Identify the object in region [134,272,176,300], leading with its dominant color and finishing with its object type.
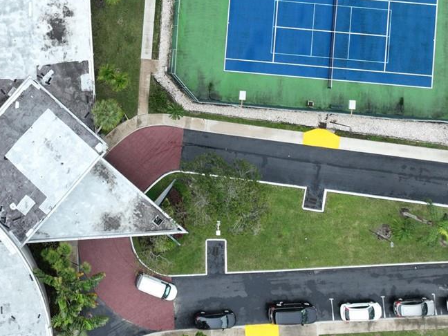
white car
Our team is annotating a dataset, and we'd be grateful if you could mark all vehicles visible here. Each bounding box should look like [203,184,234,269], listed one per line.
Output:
[193,308,235,330]
[392,296,434,319]
[134,272,176,300]
[338,300,381,322]
[267,301,316,326]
